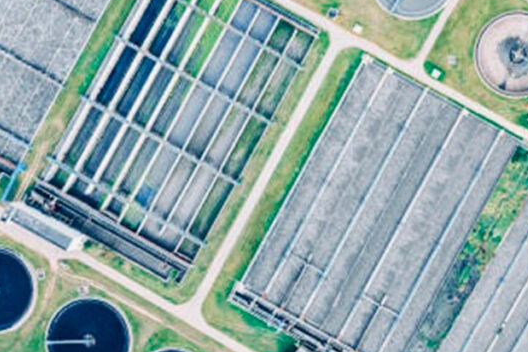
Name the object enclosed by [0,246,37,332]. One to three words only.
storage tank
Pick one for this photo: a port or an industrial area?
industrial area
